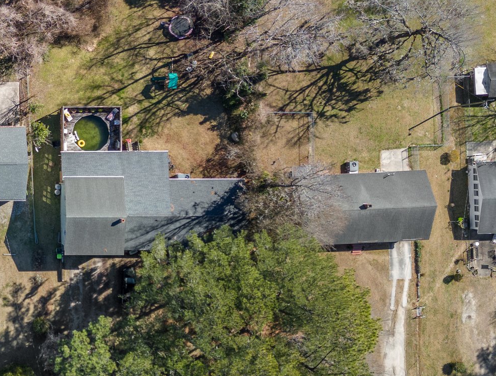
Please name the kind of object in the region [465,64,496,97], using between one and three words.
shed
